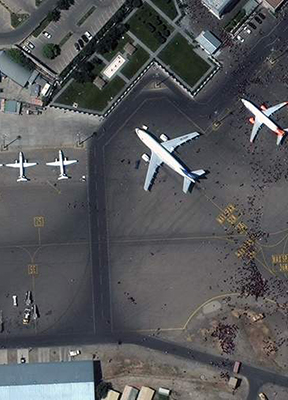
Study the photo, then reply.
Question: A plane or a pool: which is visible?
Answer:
plane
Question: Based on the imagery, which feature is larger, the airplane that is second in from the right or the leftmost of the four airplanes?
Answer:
the airplane that is second in from the right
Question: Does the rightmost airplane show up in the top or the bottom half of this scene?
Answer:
top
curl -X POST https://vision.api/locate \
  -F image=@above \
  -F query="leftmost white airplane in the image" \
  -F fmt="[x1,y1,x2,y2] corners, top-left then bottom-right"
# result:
[5,152,36,180]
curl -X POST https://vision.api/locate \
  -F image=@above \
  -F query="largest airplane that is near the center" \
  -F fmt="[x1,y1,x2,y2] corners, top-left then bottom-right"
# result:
[135,128,206,192]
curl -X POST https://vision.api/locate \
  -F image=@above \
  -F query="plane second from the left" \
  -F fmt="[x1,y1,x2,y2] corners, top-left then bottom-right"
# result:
[45,151,77,179]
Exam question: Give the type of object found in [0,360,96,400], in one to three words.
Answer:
hangar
